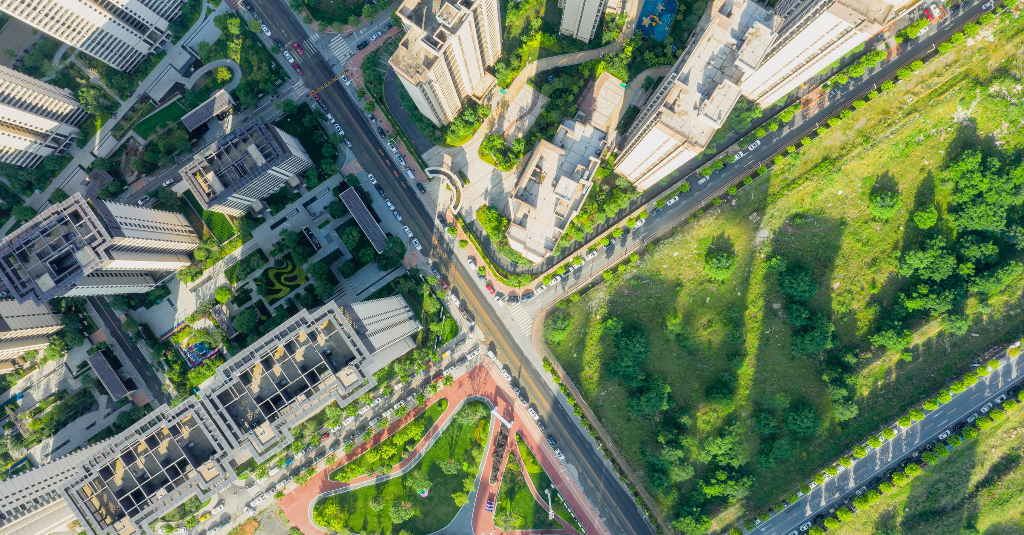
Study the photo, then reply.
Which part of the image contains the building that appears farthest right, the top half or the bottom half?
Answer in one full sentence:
The top half of the photo is where the building that appears farthest right is.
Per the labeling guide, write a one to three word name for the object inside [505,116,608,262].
building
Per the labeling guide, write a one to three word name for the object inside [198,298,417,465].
building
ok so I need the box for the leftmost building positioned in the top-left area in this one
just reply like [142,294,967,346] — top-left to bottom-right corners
[0,48,87,151]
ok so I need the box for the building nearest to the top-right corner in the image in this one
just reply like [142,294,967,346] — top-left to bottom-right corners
[739,0,905,103]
